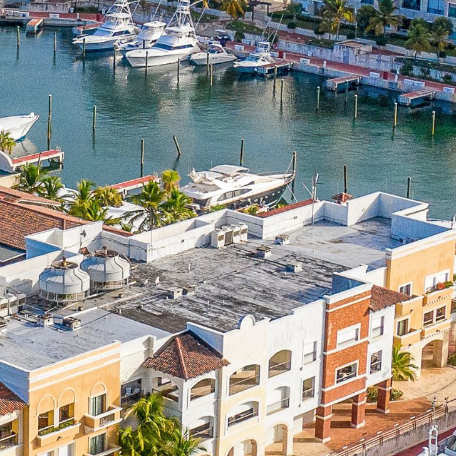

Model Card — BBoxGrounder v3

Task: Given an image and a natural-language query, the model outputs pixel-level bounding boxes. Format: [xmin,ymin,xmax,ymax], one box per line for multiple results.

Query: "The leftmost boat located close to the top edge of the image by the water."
[66,0,141,48]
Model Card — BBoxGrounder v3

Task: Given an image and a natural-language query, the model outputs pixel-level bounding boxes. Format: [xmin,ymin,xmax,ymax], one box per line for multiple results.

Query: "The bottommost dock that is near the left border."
[0,143,66,172]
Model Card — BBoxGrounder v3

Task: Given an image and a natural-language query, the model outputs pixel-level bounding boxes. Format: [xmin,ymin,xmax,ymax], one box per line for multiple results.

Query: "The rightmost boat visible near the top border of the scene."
[227,12,297,75]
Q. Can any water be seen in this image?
Yes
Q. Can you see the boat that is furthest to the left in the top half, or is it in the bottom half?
top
